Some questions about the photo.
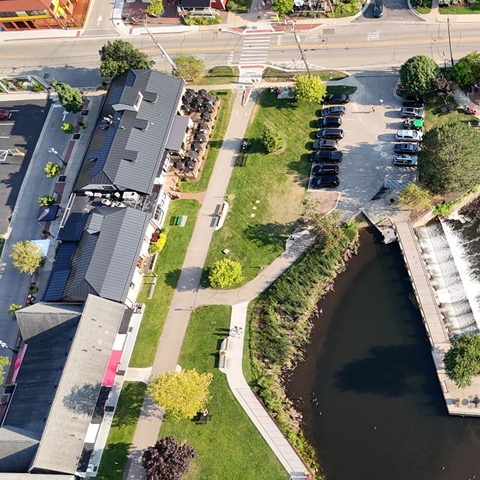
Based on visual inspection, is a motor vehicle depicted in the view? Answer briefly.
Yes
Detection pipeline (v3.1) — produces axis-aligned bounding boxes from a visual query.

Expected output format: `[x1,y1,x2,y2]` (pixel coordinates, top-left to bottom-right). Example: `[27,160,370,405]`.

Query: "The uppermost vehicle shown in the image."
[370,0,383,16]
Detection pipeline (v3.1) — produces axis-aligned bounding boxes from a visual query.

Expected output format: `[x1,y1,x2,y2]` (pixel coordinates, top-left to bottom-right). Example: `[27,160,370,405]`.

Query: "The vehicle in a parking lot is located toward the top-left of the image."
[0,108,13,121]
